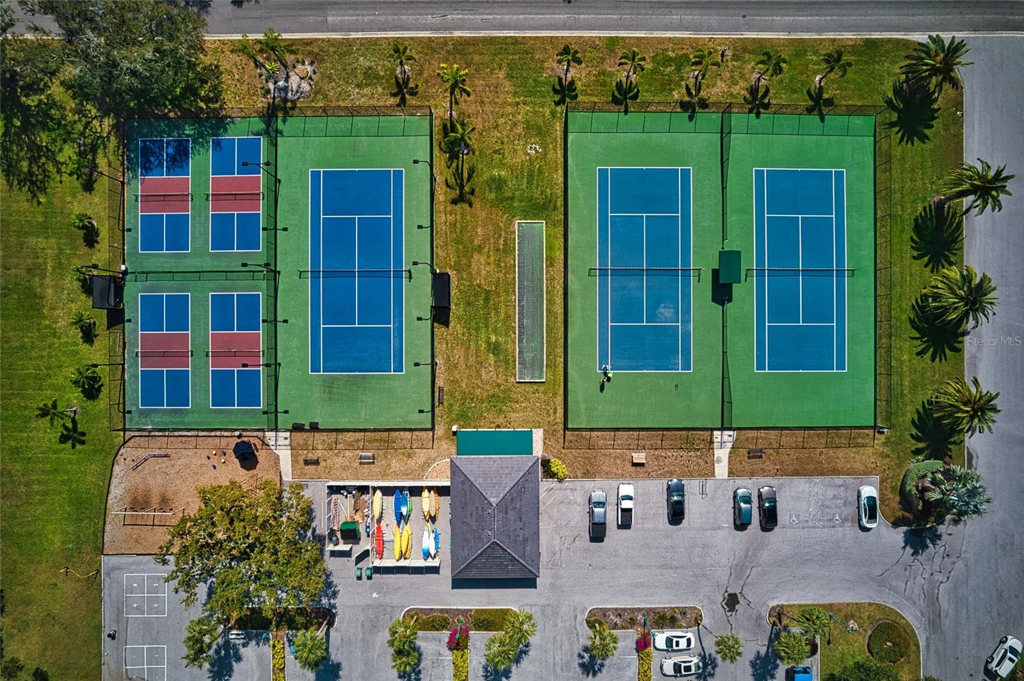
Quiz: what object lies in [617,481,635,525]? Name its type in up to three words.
vehicle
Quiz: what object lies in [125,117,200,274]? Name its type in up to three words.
sports court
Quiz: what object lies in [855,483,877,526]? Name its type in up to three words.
car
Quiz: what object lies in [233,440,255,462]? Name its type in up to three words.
umbrella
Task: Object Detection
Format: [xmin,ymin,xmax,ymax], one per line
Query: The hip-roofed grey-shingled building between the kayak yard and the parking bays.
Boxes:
[450,455,540,578]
